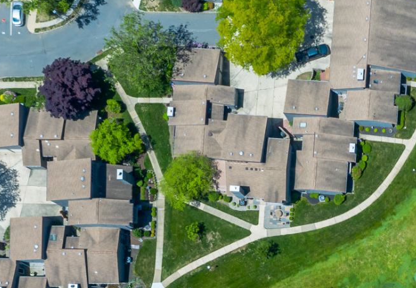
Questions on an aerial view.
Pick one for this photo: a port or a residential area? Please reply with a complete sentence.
This image shows a residential area.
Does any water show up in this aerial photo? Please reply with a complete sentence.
No, there is no water in the image.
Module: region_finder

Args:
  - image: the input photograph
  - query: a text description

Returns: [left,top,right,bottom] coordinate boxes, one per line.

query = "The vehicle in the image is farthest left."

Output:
[12,1,26,28]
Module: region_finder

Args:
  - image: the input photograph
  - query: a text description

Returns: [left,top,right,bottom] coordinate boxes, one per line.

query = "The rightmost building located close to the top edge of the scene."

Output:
[329,0,416,98]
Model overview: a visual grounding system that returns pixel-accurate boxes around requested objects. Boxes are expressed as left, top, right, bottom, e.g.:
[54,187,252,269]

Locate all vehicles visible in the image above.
[12,1,26,28]
[295,45,331,63]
